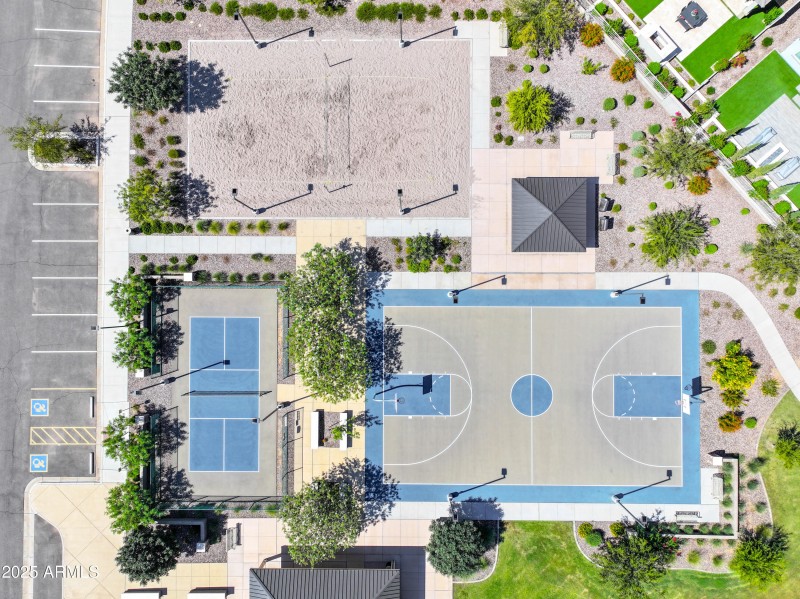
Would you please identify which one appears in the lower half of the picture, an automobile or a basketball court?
basketball court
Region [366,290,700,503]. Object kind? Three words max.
basketball court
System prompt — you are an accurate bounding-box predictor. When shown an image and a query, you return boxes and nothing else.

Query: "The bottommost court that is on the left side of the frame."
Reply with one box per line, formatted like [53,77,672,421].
[172,288,277,497]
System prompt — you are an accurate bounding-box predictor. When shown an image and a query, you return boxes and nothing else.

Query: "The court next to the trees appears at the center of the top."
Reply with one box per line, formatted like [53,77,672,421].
[188,39,472,219]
